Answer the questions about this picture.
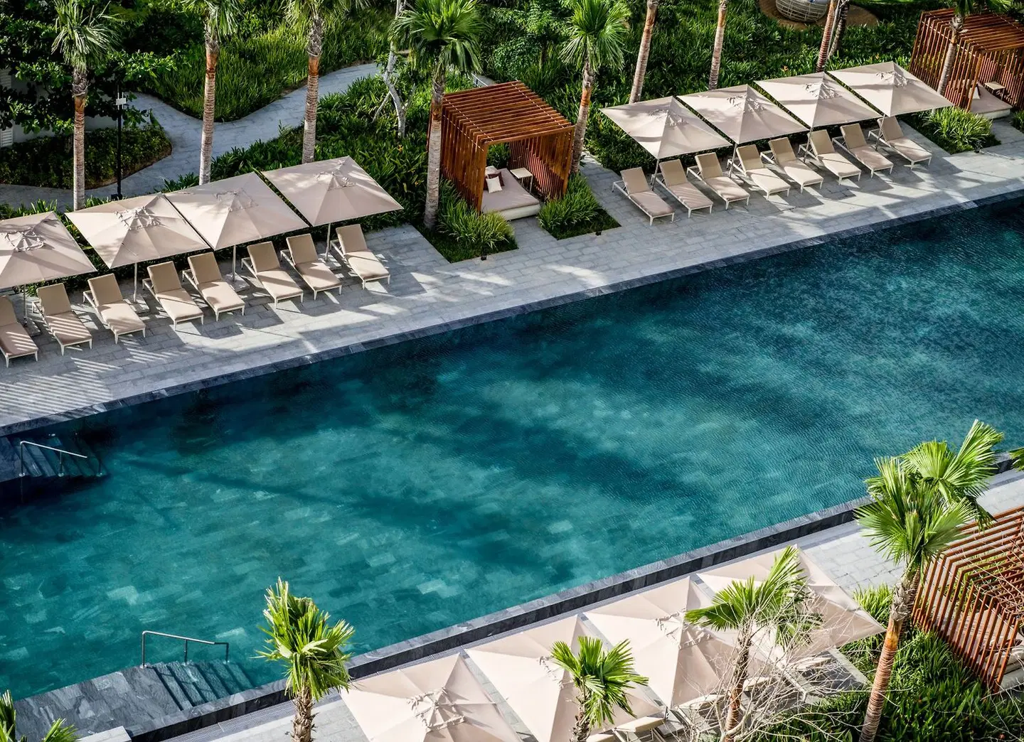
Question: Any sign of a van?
No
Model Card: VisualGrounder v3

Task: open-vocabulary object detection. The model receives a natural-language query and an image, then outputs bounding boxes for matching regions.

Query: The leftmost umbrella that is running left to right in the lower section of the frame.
[342,652,532,742]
